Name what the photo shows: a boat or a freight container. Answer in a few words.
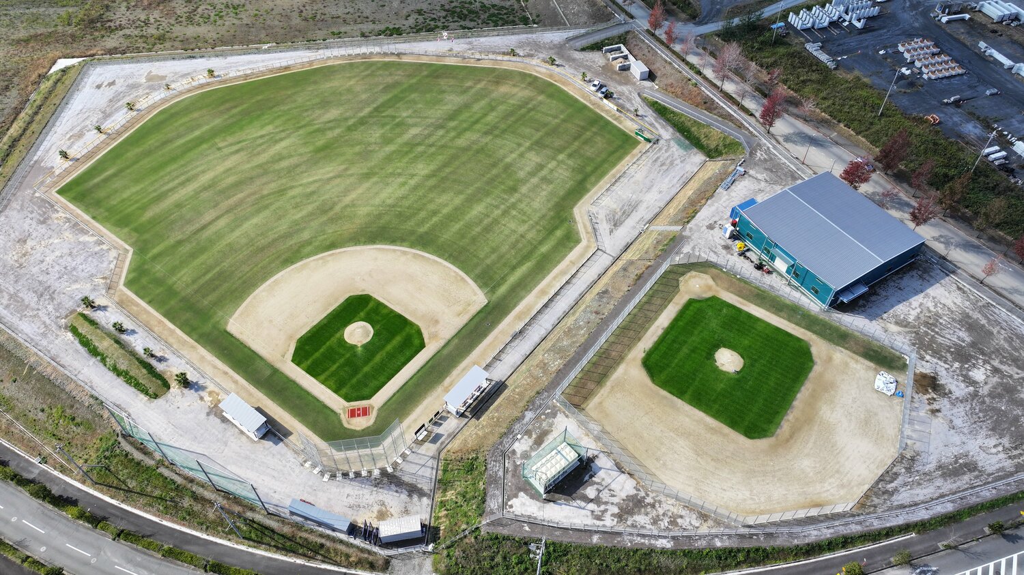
freight container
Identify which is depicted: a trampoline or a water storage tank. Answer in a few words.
water storage tank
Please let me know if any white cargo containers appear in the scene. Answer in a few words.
Yes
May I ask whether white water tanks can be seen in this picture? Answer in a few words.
Yes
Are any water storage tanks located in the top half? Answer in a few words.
No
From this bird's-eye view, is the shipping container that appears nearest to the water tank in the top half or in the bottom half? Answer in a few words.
bottom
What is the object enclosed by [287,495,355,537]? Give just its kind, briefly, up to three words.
shed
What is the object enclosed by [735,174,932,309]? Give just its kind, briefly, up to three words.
building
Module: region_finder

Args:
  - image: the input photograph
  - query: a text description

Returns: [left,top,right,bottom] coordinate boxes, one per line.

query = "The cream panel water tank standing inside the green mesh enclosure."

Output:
[529,440,583,493]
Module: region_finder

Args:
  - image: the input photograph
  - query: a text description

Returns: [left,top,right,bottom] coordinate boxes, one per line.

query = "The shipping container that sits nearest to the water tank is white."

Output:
[380,514,425,545]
